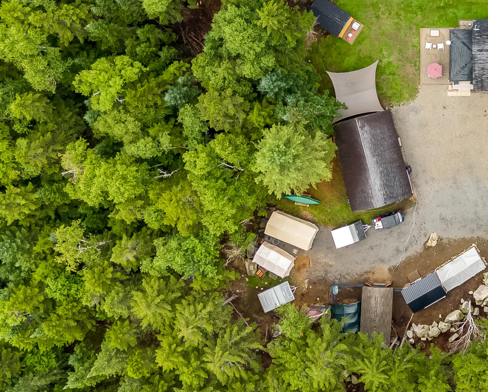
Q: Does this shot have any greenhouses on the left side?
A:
No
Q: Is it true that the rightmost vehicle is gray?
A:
Yes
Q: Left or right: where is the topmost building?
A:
right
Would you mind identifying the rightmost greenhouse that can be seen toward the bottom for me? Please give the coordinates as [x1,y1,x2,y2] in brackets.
[437,246,487,291]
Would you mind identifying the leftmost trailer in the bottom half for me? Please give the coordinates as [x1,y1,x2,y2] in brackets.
[259,280,299,312]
